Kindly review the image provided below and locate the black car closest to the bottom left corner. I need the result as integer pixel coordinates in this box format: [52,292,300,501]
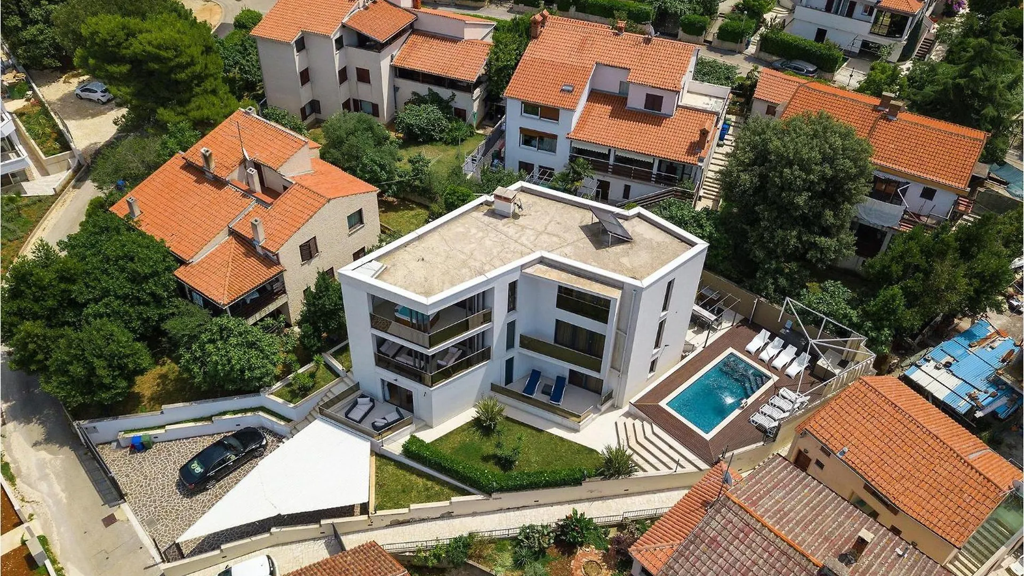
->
[177,428,267,486]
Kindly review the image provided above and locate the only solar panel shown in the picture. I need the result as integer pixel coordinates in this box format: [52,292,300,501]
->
[593,207,633,246]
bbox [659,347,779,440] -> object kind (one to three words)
swimming pool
